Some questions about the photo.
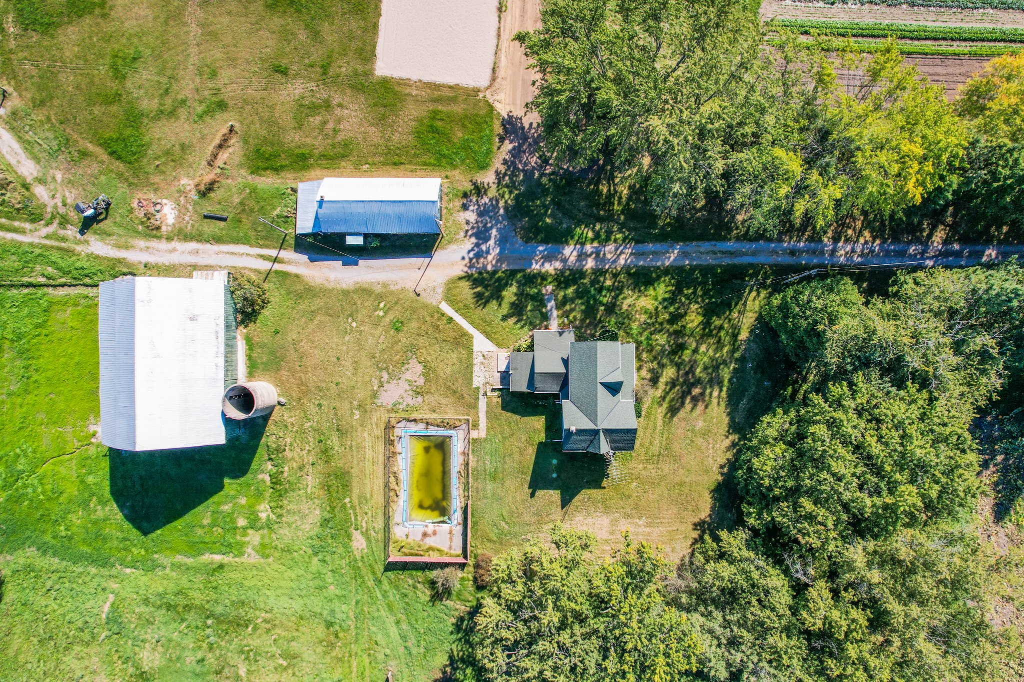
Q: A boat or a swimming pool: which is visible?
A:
swimming pool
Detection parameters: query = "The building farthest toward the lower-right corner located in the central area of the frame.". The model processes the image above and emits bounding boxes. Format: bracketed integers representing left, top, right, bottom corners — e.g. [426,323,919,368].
[509,330,638,455]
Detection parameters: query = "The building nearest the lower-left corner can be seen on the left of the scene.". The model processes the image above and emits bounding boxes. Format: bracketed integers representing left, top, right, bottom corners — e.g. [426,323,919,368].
[99,276,241,453]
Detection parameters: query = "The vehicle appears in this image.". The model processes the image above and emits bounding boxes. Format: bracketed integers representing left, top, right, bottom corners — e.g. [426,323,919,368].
[66,191,113,222]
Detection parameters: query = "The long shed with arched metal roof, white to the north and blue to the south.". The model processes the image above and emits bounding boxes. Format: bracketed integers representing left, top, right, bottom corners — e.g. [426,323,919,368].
[295,177,442,246]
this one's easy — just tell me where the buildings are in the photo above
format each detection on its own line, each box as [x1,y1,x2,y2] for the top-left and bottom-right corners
[99,276,241,453]
[295,177,442,246]
[509,330,638,455]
